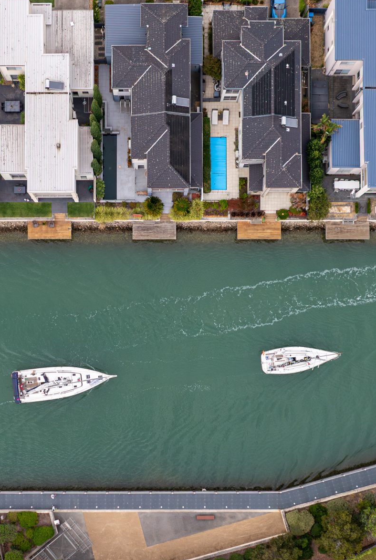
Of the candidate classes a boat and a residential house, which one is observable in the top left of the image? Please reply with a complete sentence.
Looking in the top left of the image, you will find a residential house.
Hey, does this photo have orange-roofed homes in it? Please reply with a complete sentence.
No, I find no orange-roofed home anywhere in the image.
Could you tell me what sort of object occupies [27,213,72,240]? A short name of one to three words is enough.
pier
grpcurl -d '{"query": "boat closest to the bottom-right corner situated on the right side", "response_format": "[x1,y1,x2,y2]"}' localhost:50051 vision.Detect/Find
[259,344,341,374]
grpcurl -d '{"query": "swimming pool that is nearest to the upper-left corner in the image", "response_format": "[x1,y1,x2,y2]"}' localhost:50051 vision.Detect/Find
[100,131,119,202]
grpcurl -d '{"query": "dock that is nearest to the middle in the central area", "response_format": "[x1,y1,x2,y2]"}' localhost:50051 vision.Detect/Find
[132,214,177,240]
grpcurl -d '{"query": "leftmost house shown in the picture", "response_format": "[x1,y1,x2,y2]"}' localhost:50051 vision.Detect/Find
[0,0,93,204]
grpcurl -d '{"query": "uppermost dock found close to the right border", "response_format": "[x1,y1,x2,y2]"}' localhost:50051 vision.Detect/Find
[325,215,370,240]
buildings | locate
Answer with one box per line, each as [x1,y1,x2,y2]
[0,0,93,204]
[105,2,203,198]
[212,6,312,198]
[327,0,376,198]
